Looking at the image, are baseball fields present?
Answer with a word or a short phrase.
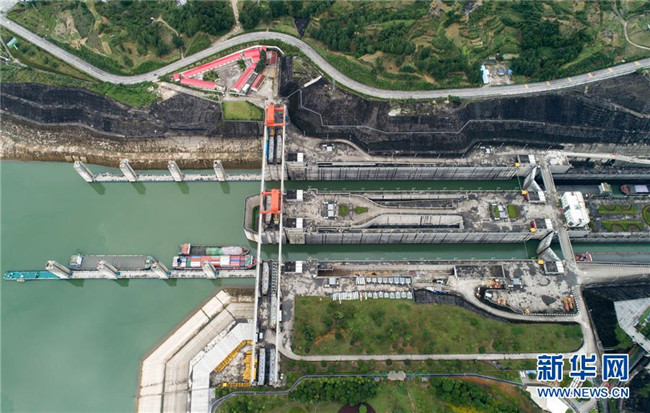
No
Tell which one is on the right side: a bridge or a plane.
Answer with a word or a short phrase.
bridge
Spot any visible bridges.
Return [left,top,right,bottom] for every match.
[542,150,581,275]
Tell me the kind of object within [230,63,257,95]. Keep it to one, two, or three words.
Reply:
building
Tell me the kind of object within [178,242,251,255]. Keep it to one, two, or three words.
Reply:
ship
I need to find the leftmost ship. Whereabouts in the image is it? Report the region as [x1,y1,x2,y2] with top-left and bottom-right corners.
[2,270,66,282]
